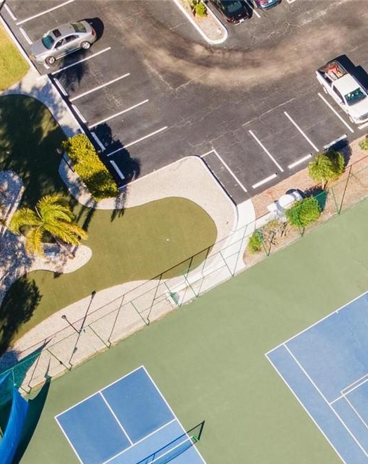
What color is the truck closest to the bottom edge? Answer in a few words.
white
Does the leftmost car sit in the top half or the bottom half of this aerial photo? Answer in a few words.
top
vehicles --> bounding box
[204,0,246,26]
[317,60,368,122]
[31,22,97,63]
[246,0,276,14]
